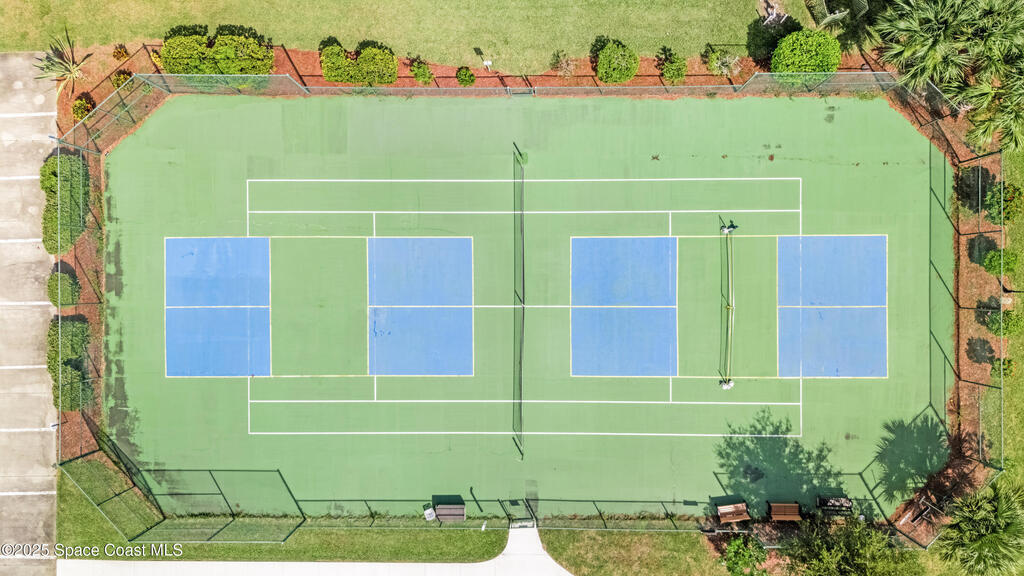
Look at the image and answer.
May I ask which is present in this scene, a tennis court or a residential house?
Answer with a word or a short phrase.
tennis court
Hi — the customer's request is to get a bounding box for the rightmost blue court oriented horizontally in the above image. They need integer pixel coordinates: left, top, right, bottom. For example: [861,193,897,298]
[571,235,888,380]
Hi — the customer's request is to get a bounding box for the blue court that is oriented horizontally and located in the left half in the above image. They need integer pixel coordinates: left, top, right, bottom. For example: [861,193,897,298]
[165,235,473,378]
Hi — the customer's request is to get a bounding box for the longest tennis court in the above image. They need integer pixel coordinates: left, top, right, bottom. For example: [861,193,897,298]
[103,93,955,521]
